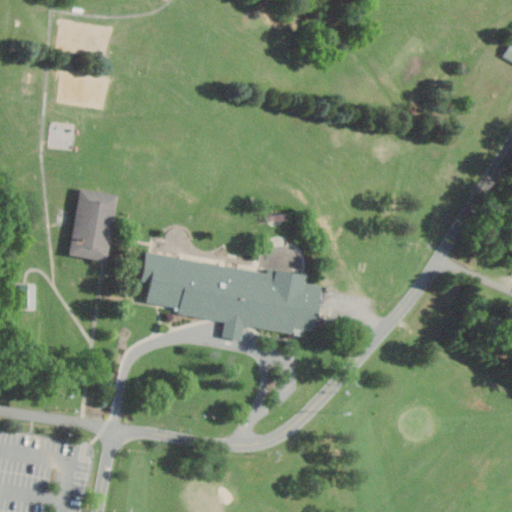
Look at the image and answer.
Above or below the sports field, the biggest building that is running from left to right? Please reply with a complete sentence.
In the image, the biggest building that is running from left to right appears above the sports field.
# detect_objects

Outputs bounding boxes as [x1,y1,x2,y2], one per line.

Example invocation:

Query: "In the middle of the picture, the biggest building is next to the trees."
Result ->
[142,254,321,342]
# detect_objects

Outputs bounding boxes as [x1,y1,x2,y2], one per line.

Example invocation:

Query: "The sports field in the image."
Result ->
[188,485,234,512]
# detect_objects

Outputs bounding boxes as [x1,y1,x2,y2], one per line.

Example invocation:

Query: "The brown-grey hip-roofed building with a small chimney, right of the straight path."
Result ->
[70,189,118,264]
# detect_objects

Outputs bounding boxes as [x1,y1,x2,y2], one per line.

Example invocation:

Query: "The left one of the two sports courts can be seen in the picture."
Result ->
[48,122,75,151]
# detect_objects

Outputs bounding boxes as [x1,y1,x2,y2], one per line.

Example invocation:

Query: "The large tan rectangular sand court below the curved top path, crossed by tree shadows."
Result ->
[56,20,112,110]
